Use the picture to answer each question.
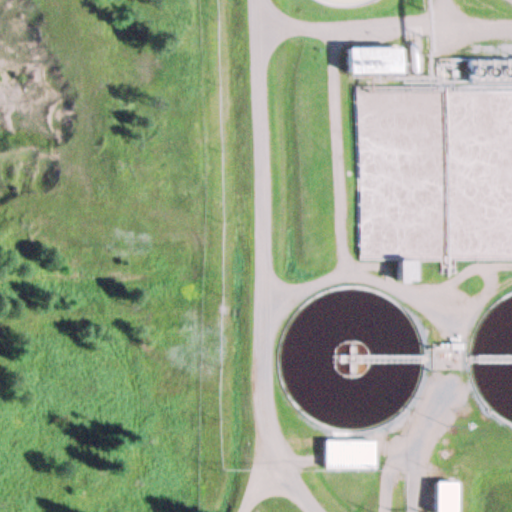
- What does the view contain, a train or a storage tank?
storage tank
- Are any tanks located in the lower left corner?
No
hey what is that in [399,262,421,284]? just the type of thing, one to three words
building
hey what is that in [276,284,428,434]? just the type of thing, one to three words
storage tank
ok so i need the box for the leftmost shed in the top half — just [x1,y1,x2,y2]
[348,46,404,75]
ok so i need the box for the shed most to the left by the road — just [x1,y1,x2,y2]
[324,437,376,470]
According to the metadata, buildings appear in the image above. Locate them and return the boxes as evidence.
[399,262,421,284]
[434,476,458,512]
[348,46,404,75]
[324,437,376,470]
[468,59,512,84]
